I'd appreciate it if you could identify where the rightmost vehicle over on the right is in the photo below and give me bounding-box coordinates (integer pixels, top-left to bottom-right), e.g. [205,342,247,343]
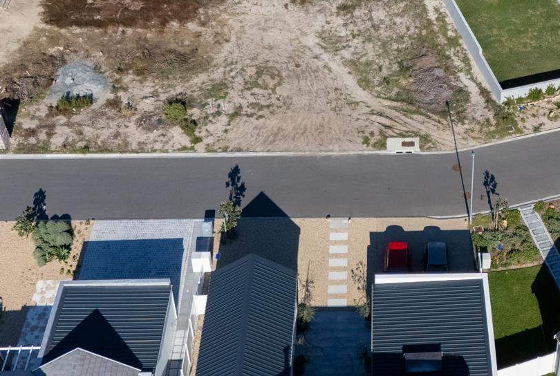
[421,245,451,274]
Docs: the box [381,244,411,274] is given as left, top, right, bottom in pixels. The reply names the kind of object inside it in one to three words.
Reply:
car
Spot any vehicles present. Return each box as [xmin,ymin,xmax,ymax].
[421,245,451,274]
[381,244,411,274]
